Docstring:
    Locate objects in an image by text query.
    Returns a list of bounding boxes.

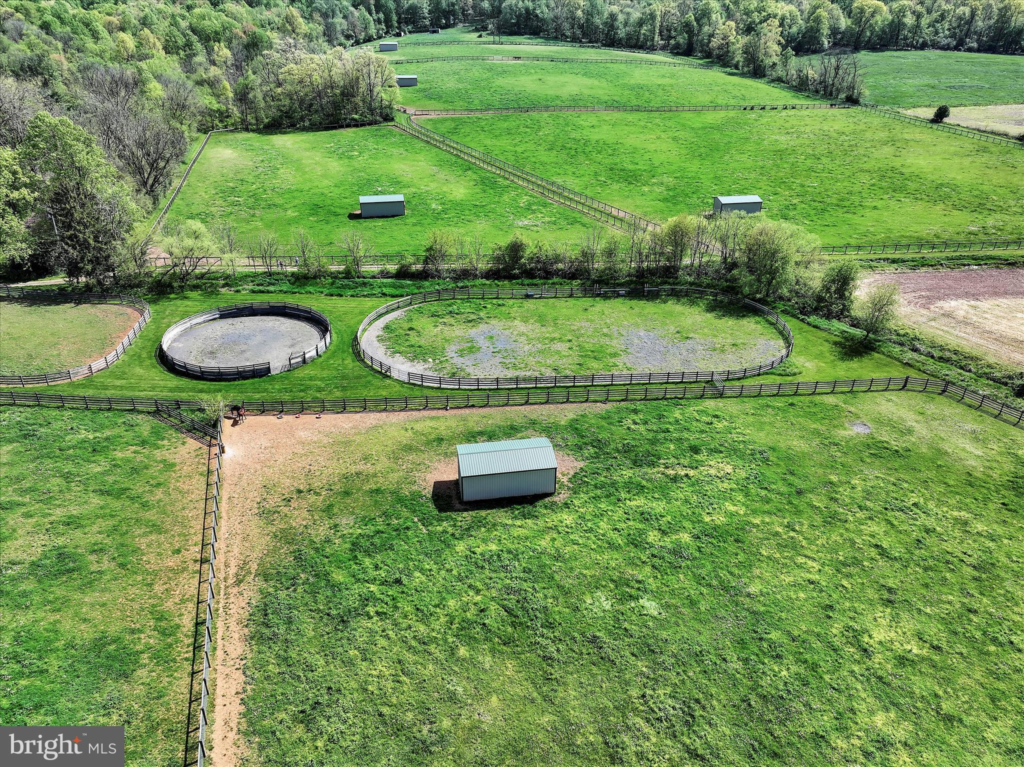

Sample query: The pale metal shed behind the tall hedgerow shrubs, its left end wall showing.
[709,190,765,216]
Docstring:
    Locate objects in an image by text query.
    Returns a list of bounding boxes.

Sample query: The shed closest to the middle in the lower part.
[456,441,558,502]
